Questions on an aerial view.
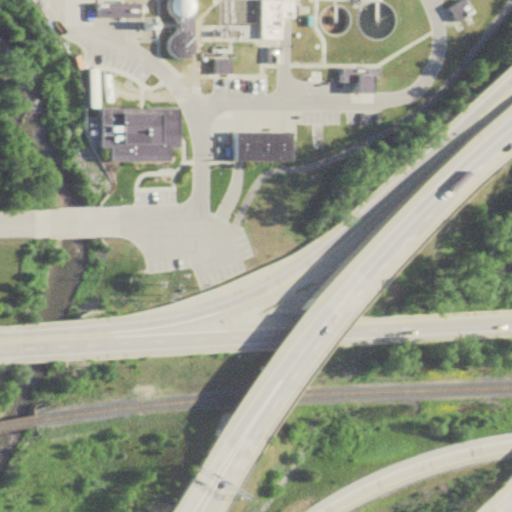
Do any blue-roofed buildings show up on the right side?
No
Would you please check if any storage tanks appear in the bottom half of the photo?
No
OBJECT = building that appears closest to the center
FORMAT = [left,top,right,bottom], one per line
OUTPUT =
[234,133,294,162]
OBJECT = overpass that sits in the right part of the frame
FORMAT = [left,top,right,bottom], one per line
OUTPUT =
[176,102,512,512]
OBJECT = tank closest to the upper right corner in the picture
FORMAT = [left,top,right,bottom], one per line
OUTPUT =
[358,0,396,39]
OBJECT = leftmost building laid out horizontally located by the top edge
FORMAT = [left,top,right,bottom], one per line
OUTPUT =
[94,4,142,18]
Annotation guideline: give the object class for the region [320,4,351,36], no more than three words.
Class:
storage tank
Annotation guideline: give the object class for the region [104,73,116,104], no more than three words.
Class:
shed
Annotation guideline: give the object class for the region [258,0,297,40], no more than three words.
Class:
building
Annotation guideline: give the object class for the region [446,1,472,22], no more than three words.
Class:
house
